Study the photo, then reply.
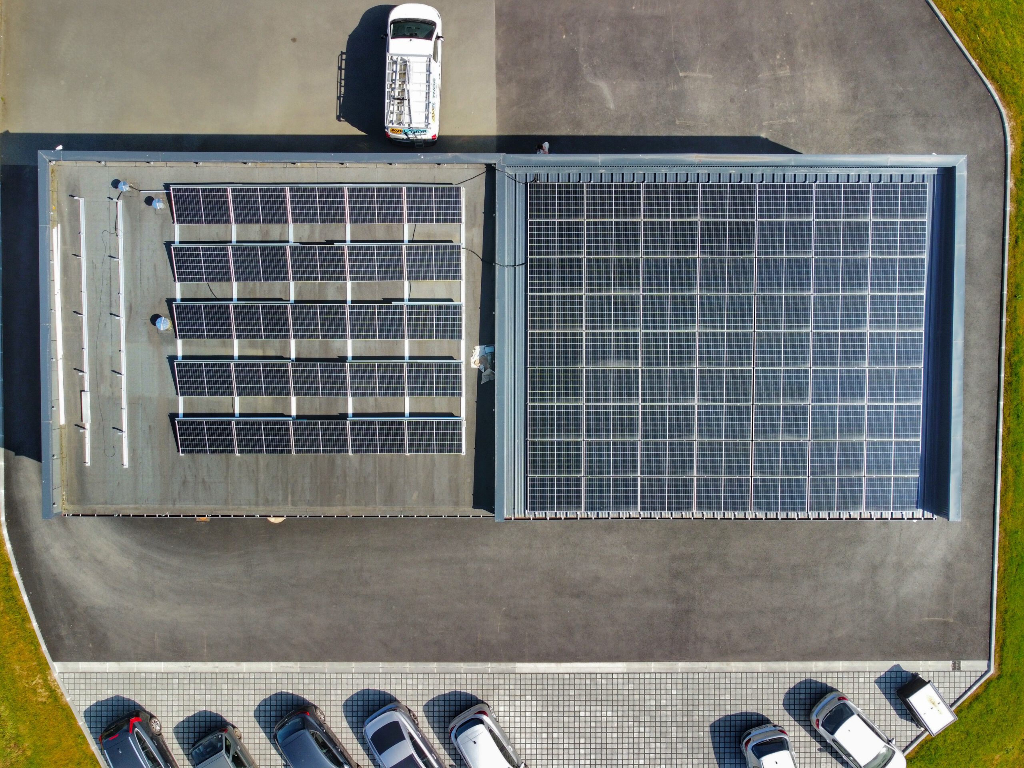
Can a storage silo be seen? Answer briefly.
No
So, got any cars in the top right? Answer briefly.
No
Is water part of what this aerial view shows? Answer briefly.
No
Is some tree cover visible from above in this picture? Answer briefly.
No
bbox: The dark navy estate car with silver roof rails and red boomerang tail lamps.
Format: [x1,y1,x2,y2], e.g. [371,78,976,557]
[97,711,181,768]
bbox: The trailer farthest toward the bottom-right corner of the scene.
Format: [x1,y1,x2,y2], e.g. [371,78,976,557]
[896,673,957,736]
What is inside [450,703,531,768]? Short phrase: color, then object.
white car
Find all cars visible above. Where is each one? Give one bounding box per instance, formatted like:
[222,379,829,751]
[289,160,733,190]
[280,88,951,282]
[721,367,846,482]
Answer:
[450,703,531,768]
[364,705,444,768]
[272,705,359,768]
[190,725,257,768]
[742,727,801,768]
[97,711,181,768]
[811,692,901,768]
